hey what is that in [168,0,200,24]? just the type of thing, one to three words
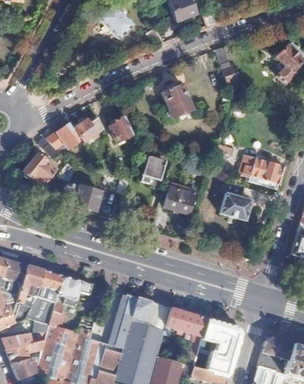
house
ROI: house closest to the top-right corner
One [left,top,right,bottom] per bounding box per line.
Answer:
[276,42,304,82]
